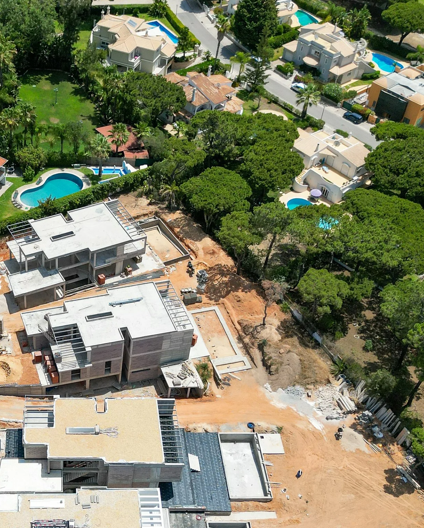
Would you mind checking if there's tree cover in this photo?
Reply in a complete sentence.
Yes, there's tree cover in this view.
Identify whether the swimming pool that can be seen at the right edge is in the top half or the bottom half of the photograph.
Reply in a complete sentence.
You can find the swimming pool that can be seen at the right edge in the top half.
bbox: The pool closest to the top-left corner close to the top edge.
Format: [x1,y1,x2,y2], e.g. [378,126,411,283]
[148,18,182,46]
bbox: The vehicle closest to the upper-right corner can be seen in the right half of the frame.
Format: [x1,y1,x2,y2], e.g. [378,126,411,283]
[341,104,368,122]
